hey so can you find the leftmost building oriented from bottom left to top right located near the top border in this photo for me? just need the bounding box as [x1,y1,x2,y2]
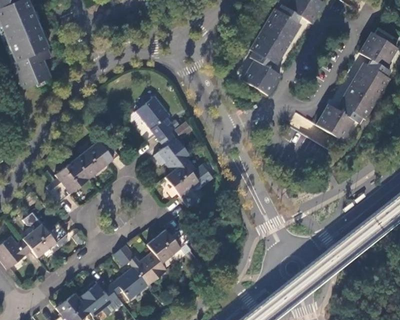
[237,0,326,98]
